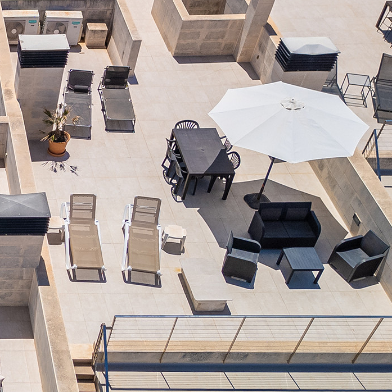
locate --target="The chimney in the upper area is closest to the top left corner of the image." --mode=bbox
[16,30,70,136]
